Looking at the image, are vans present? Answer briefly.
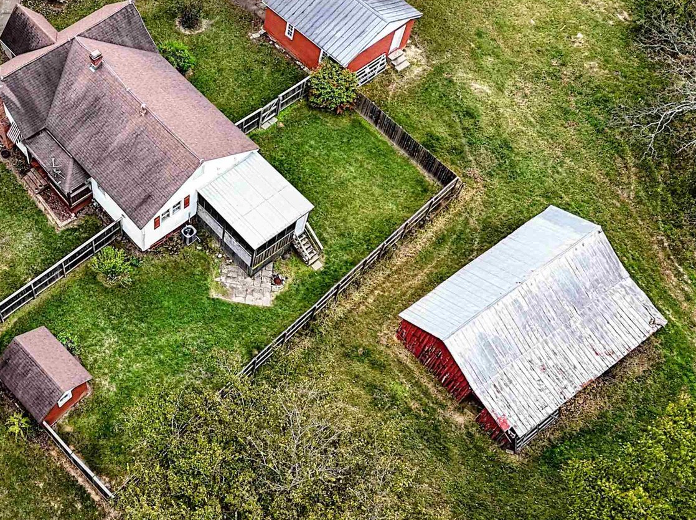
No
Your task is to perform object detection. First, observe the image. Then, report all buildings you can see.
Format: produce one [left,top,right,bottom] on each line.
[0,328,91,423]
[0,0,323,277]
[398,207,669,455]
[263,0,420,81]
